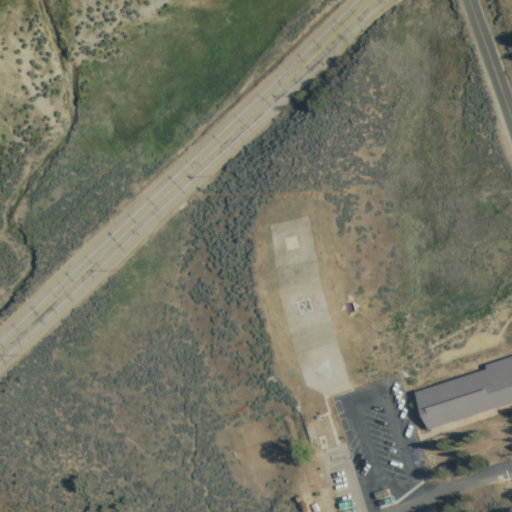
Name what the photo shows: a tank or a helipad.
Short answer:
helipad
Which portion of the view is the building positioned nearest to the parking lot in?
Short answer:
bottom right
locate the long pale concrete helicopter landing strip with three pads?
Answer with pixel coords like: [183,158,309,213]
[271,217,352,397]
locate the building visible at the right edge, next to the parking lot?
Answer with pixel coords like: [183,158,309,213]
[416,356,512,430]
